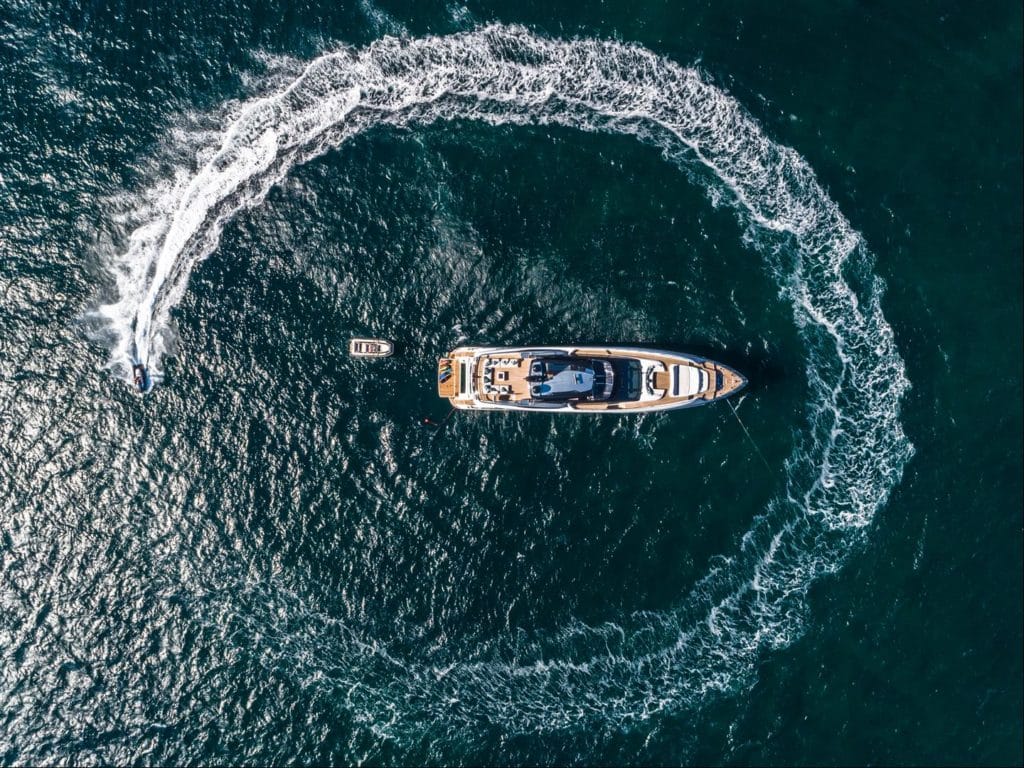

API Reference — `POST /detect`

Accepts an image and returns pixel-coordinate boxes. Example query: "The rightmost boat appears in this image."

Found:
[438,347,748,412]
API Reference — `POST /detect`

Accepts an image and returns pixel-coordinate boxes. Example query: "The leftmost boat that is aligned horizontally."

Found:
[350,339,393,357]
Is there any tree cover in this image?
No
